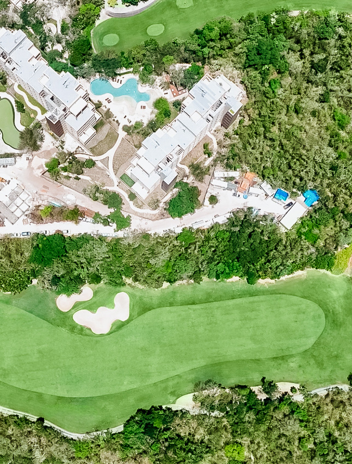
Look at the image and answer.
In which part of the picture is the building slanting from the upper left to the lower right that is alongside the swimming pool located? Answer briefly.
top left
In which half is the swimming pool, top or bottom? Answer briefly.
top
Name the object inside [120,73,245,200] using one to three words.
building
